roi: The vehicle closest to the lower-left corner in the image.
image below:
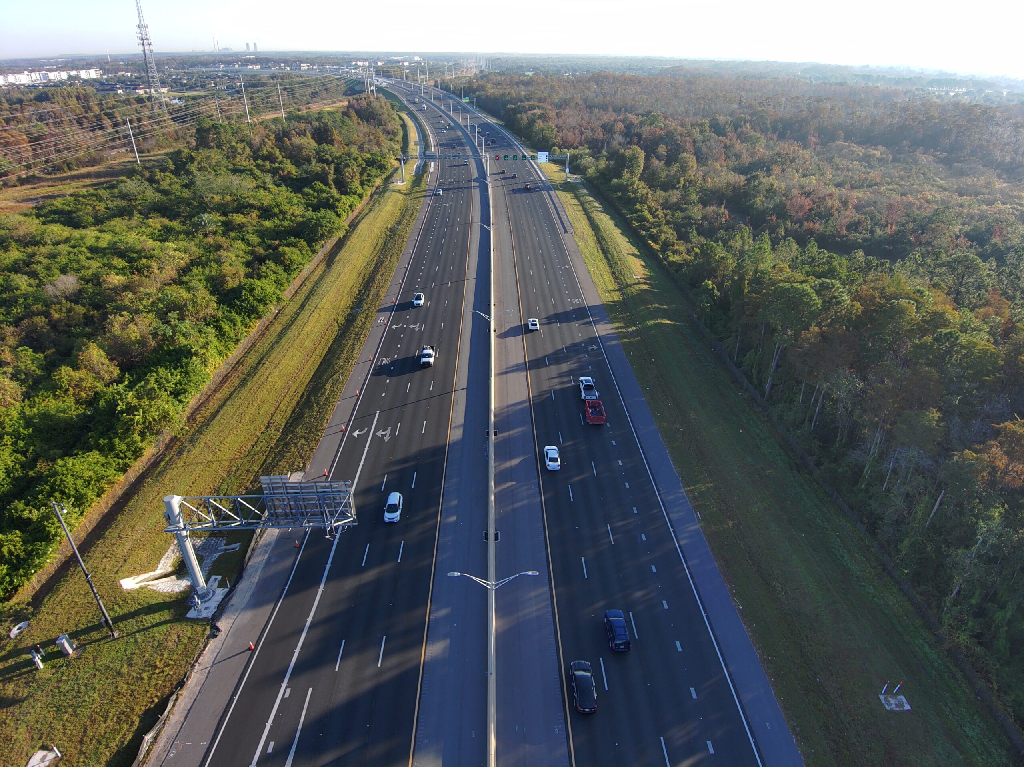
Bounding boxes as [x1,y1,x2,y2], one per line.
[383,491,403,523]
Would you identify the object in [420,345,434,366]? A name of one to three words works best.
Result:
vehicle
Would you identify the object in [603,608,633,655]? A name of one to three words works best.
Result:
car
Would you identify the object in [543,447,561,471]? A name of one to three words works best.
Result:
car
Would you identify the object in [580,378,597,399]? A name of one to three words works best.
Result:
vehicle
